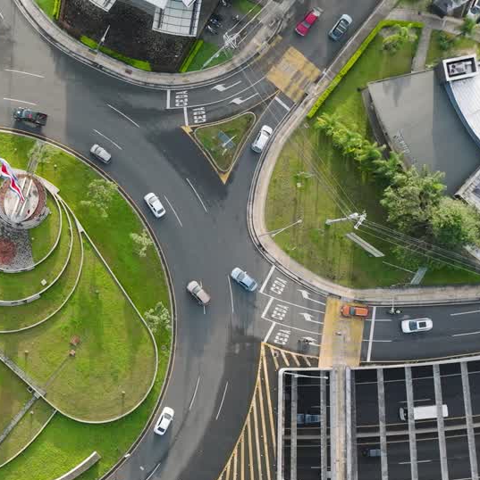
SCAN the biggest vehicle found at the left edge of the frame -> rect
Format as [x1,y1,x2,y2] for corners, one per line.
[13,108,48,126]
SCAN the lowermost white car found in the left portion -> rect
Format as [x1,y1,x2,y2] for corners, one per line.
[153,406,174,435]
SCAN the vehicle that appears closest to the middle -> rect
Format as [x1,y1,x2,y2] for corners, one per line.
[229,266,258,291]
